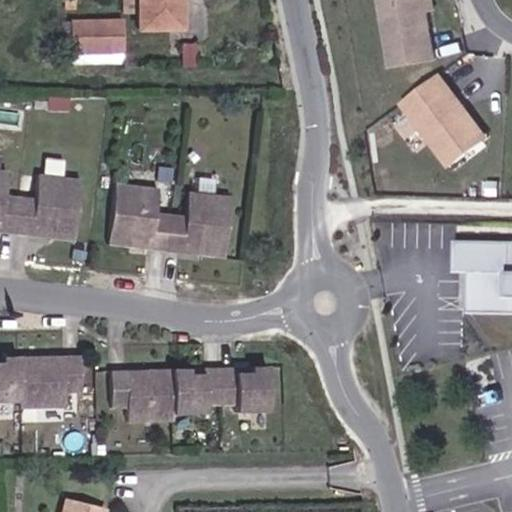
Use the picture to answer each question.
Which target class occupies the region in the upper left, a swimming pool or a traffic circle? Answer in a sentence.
It is a swimming pool that can be seen in the upper left.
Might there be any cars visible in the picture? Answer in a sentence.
Yes, this view includes a car.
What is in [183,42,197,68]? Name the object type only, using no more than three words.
shed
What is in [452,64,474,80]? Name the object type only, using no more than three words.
car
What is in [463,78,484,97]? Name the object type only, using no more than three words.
car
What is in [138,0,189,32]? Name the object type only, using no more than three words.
house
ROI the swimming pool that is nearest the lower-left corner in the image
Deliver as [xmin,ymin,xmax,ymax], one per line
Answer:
[62,430,86,454]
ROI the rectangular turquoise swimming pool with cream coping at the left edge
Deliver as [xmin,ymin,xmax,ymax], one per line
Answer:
[0,106,24,128]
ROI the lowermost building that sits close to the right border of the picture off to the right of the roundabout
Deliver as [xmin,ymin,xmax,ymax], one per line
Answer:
[451,240,512,314]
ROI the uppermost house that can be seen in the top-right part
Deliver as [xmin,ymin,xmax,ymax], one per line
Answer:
[373,0,436,68]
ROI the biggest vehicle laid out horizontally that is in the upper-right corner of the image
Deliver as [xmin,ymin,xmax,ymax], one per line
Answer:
[434,41,462,56]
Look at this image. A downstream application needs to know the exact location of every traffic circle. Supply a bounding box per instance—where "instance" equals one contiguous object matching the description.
[278,252,372,350]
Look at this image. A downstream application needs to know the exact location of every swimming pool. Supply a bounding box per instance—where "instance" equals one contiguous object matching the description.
[62,430,86,454]
[0,106,24,128]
